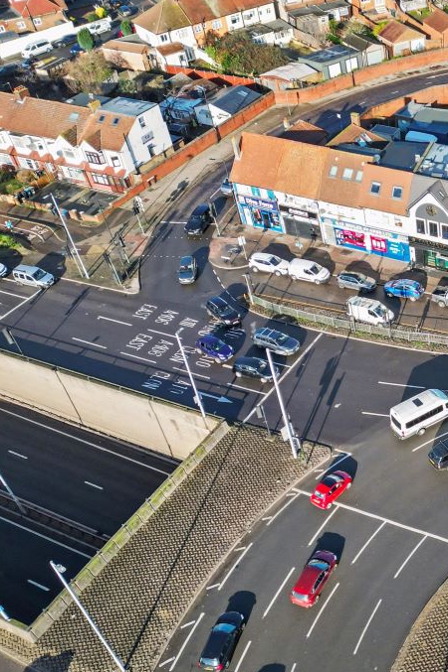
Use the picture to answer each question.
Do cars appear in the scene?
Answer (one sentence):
Yes, you can see a car in this photo.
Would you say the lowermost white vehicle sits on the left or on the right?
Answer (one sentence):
The lowermost white vehicle is on the right side of the image.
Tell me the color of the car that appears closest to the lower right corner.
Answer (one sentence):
In this view, the car that appears closest to the lower right corner is red.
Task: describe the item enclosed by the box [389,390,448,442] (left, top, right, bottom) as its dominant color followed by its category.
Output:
white vehicle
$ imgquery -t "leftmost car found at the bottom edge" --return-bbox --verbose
[194,609,247,672]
